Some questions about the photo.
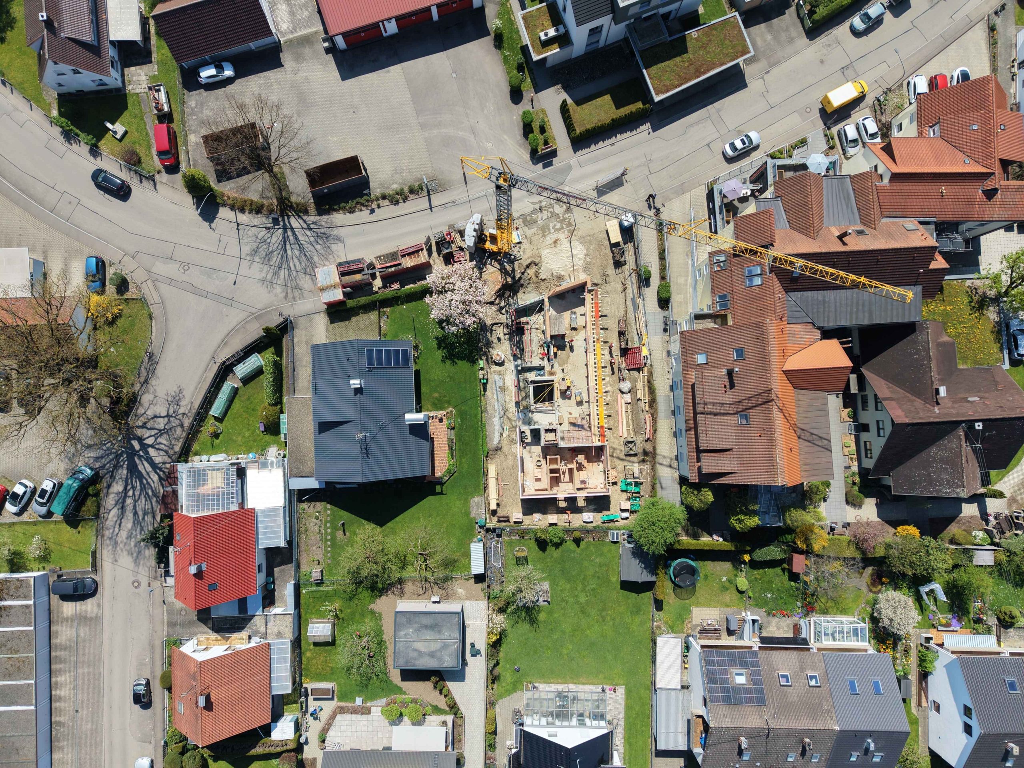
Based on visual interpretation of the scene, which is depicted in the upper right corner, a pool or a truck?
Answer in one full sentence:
What appears in the upper right corner is a truck.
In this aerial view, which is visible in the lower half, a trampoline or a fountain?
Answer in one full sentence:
Looking in the lower half, you will find a trampoline.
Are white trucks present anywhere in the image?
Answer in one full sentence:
Yes, you can see a white truck in this photo.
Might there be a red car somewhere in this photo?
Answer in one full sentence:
Yes, this view includes a red car.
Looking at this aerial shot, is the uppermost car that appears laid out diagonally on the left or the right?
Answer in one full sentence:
The uppermost car that appears laid out diagonally sits on the right side.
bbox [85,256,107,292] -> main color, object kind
blue car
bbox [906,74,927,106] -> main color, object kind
white car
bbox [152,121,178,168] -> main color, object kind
red vehicle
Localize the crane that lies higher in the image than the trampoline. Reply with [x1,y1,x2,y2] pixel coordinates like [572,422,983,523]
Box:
[461,154,917,305]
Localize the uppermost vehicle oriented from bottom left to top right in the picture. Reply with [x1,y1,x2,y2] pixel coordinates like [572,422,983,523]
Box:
[849,2,887,34]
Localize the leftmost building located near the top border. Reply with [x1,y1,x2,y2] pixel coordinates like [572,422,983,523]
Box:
[24,0,126,95]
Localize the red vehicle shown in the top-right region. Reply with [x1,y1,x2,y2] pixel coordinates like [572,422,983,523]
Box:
[928,72,949,92]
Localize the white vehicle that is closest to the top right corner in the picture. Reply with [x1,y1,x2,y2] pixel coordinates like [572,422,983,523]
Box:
[949,65,971,86]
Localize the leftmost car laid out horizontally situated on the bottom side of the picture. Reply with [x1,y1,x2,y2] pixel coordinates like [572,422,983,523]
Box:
[54,577,97,596]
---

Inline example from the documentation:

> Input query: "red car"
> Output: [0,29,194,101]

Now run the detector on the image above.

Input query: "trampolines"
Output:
[668,557,705,592]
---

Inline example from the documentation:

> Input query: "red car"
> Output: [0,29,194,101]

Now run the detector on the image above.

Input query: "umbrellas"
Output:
[719,180,744,201]
[804,153,829,174]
